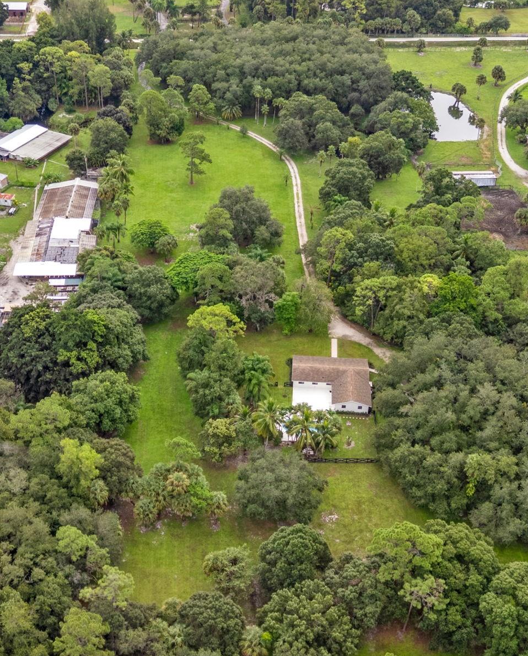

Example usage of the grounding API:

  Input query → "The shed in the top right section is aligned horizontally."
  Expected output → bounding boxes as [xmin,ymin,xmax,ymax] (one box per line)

[449,170,496,189]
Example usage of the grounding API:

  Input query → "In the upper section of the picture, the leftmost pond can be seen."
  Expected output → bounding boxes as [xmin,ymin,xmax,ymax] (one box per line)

[425,92,482,141]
